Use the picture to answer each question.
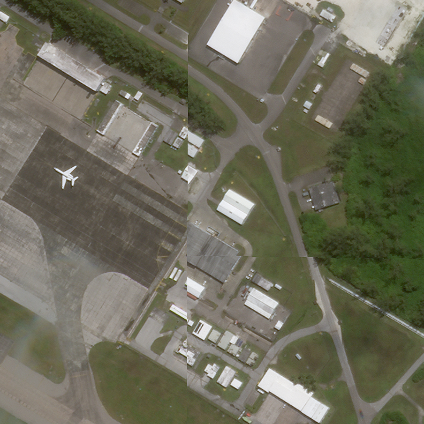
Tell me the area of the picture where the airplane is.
left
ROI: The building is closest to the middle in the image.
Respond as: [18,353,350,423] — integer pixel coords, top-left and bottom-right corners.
[217,189,256,225]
